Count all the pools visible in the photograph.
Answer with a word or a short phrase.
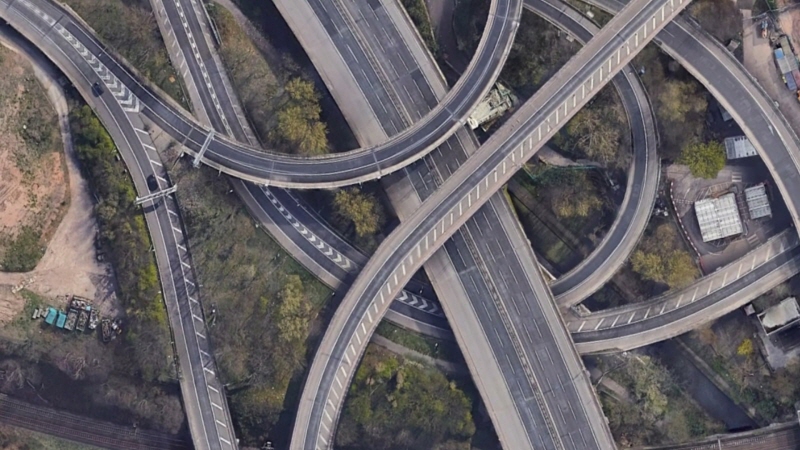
none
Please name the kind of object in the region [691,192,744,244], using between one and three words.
building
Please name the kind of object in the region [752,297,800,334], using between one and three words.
building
